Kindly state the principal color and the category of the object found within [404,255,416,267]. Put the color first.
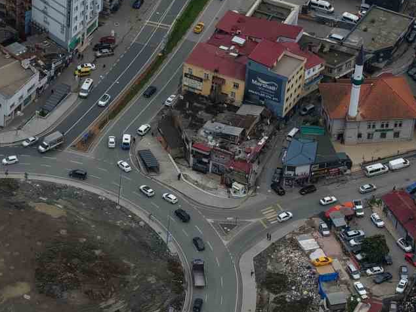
red vehicle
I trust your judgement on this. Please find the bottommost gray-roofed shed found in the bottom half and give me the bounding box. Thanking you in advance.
[325,289,347,312]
